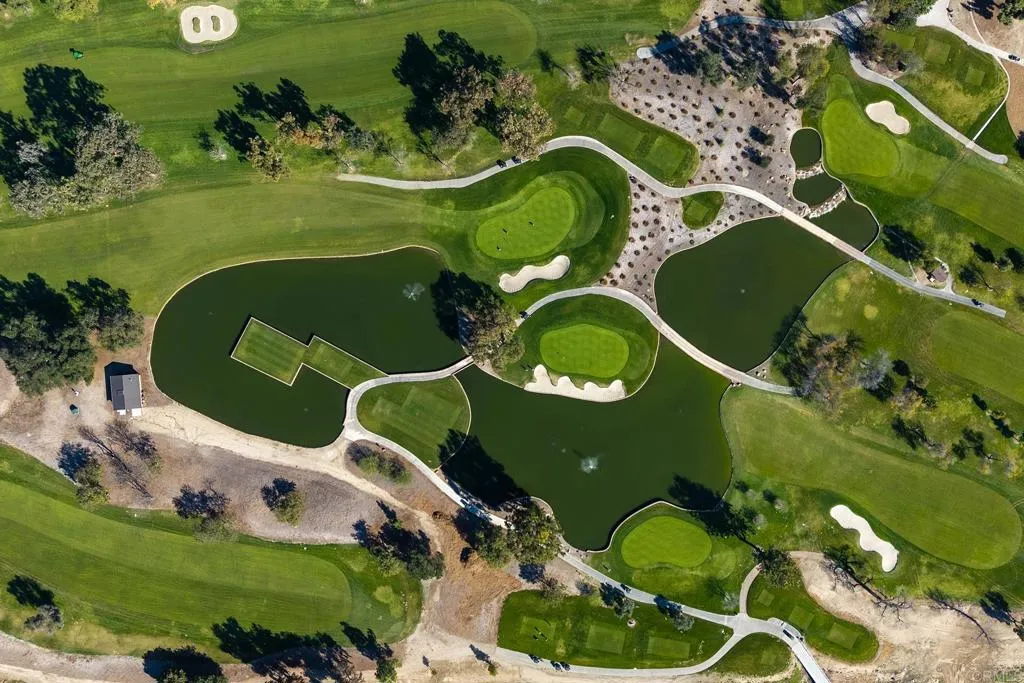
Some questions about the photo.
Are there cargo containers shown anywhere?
No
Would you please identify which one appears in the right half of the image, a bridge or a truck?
bridge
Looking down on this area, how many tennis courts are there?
0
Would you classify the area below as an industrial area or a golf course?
golf course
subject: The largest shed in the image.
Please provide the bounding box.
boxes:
[109,374,145,416]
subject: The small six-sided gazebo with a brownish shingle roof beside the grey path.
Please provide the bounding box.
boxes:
[936,267,953,283]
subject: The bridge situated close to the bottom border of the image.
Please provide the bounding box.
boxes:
[793,640,836,683]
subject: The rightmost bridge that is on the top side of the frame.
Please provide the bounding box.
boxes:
[778,204,872,265]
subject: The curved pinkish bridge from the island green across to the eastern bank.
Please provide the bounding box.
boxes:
[651,314,740,382]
